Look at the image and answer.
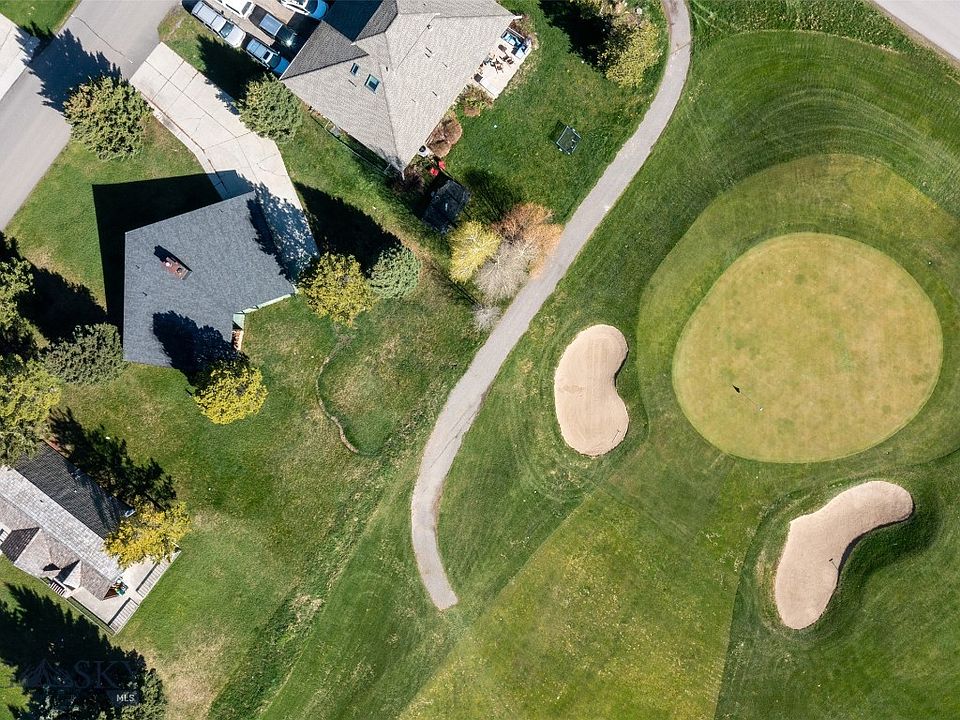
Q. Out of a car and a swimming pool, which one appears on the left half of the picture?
car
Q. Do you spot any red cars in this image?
No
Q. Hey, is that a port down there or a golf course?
golf course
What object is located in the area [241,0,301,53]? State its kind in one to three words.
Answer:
truck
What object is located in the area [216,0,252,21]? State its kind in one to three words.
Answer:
car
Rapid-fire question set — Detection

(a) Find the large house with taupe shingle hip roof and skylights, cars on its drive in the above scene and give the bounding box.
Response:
[279,0,523,172]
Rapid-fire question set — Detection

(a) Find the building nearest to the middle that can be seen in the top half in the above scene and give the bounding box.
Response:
[421,180,472,234]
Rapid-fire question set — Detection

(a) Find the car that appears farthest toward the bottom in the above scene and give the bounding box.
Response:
[242,35,291,79]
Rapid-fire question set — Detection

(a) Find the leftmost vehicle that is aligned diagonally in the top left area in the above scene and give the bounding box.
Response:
[188,0,248,51]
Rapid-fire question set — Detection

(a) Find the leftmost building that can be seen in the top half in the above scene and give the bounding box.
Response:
[123,190,302,372]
